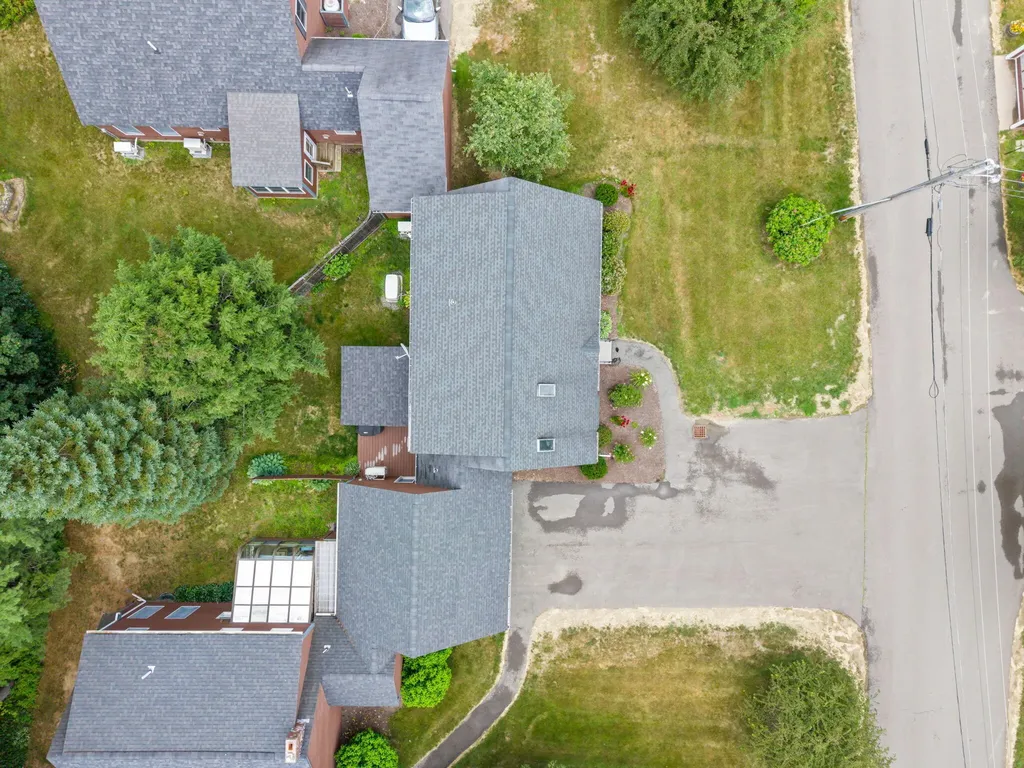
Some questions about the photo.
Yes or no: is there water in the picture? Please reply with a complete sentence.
No, no water is visible.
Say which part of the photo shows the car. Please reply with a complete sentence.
The car is in the top part of the image.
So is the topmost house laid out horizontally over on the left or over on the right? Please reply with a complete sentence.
You can find the topmost house laid out horizontally on the left side of the picture.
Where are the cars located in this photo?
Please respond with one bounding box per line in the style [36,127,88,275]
[397,0,444,36]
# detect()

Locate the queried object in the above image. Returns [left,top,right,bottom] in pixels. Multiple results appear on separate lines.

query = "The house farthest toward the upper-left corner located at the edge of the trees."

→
[34,0,451,217]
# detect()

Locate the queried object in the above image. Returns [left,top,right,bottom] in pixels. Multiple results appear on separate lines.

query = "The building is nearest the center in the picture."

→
[337,178,611,684]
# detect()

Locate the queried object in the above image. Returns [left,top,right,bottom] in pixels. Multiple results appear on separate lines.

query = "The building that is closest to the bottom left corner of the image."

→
[48,530,404,768]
